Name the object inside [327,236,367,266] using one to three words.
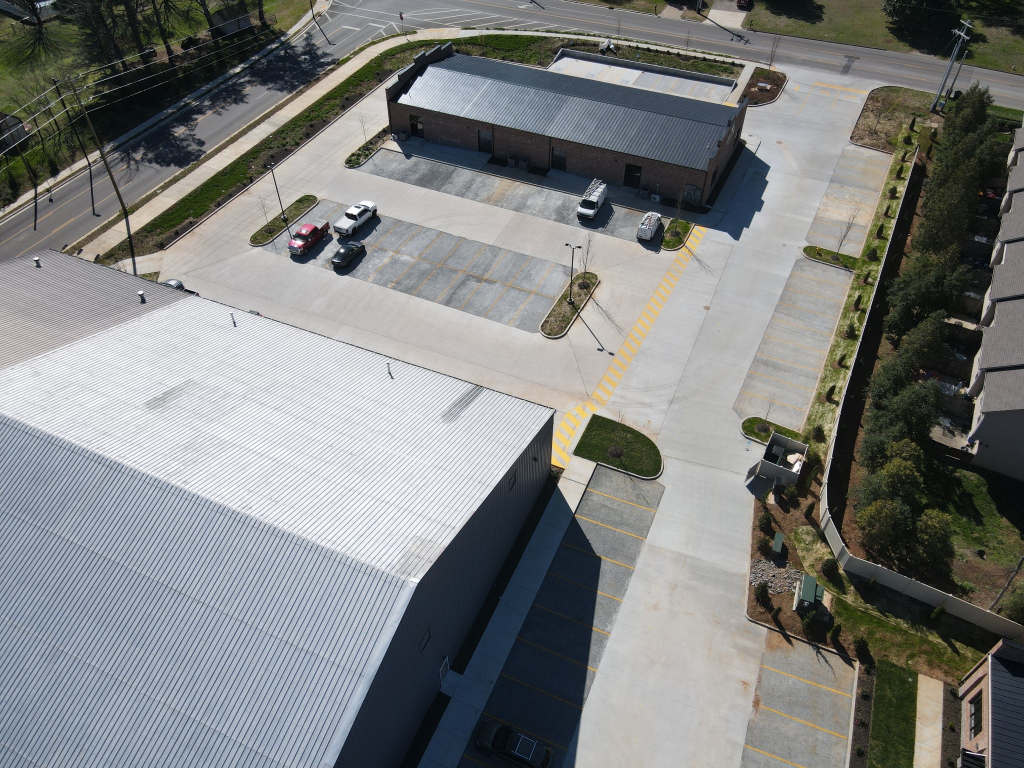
car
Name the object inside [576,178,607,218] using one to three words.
van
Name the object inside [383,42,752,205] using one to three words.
building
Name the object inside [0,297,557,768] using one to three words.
warehouse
